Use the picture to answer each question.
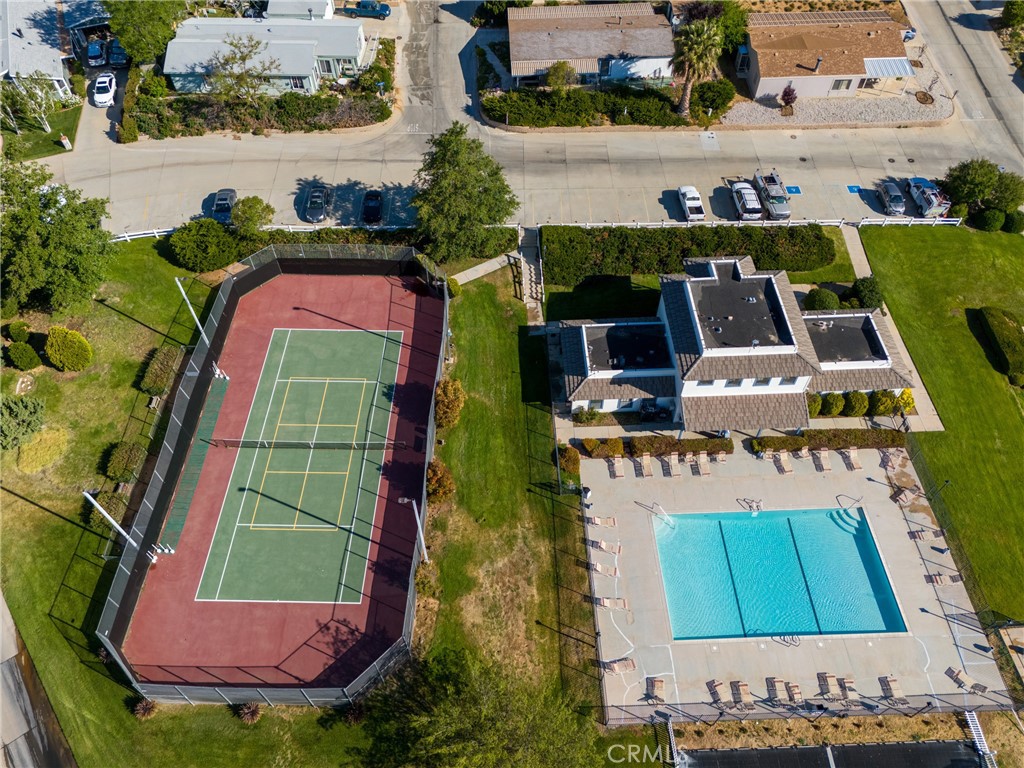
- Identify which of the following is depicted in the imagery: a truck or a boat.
truck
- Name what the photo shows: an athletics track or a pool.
pool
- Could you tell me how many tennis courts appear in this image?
1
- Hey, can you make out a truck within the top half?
Yes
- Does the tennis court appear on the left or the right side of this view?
left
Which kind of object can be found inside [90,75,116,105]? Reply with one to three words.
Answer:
car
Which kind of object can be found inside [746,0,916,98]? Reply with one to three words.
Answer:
house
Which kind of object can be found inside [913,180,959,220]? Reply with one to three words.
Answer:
truck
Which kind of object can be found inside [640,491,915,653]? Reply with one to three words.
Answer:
swimming pool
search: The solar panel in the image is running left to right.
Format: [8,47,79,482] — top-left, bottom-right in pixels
[675,736,995,768]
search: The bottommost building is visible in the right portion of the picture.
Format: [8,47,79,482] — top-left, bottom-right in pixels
[560,256,916,440]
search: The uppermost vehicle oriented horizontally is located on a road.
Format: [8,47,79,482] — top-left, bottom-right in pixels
[344,0,387,20]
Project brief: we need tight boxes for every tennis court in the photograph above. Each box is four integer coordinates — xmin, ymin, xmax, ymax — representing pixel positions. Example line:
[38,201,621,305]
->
[121,274,446,704]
